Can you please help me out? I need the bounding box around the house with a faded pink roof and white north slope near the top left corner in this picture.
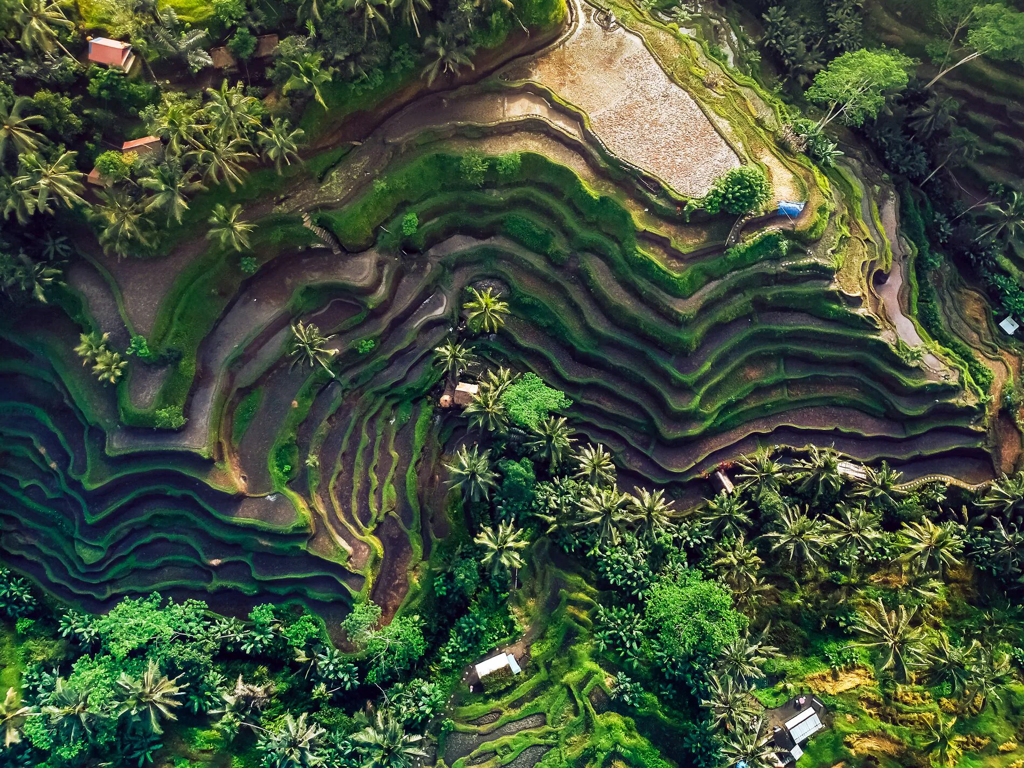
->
[88,37,146,77]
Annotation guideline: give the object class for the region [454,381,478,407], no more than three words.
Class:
shed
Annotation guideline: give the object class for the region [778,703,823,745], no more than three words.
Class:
shed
